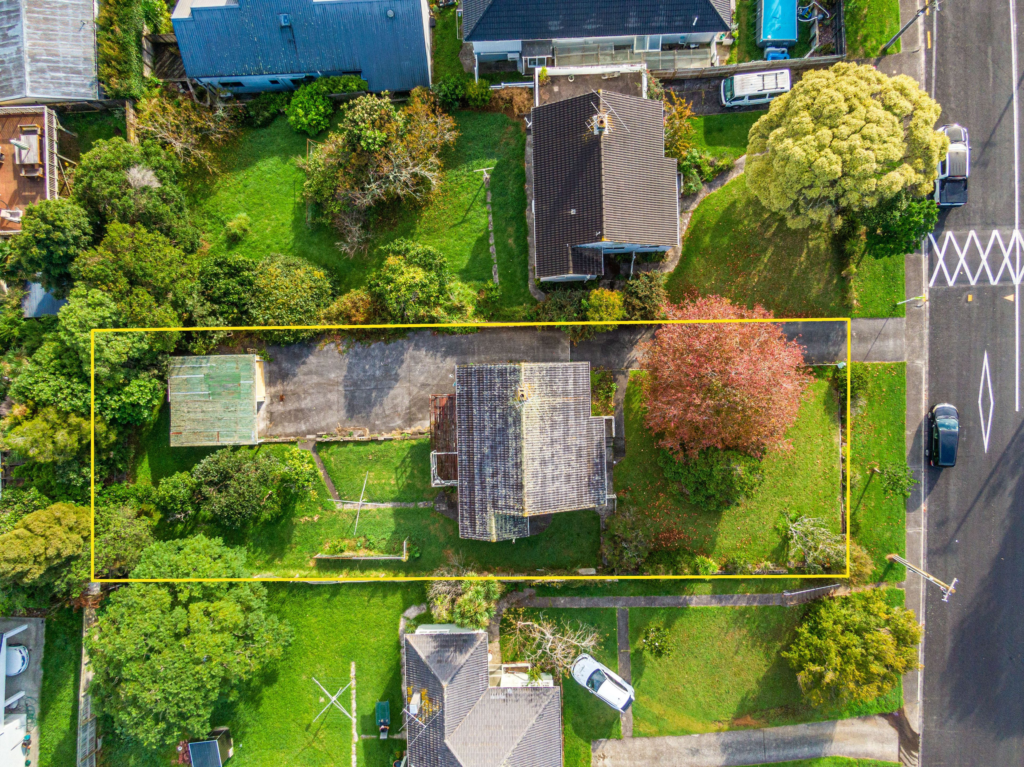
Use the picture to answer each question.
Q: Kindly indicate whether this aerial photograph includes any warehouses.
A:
No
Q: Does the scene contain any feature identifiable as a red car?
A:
No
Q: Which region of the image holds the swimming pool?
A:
top right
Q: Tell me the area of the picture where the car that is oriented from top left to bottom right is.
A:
bottom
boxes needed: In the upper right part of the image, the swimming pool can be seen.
[747,0,798,56]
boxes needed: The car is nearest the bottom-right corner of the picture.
[923,402,963,469]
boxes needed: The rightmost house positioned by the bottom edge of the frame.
[403,626,563,767]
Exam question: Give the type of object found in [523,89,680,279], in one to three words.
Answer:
house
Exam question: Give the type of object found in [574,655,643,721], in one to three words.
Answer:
car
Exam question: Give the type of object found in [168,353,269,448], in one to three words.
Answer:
building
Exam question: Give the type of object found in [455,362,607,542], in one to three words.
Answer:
house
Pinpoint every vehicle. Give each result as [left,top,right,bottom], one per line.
[722,68,800,110]
[7,647,22,678]
[574,655,643,721]
[932,125,974,207]
[923,402,963,469]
